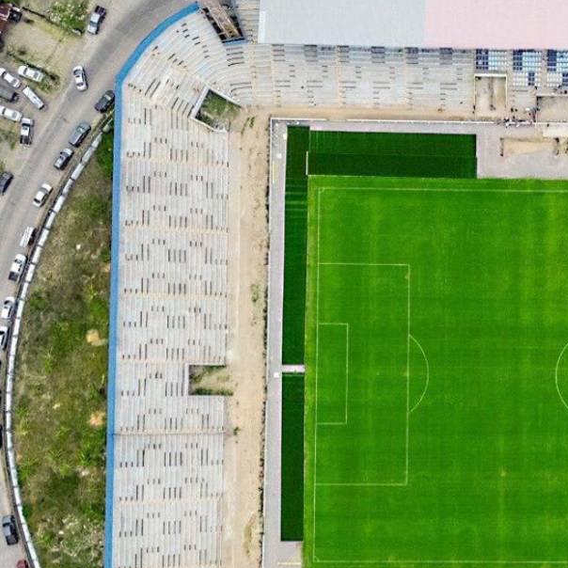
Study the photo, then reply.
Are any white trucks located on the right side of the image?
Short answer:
No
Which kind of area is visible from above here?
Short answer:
sports ground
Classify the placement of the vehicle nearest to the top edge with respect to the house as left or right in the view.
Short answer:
right of it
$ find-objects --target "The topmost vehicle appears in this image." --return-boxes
[87,3,107,34]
